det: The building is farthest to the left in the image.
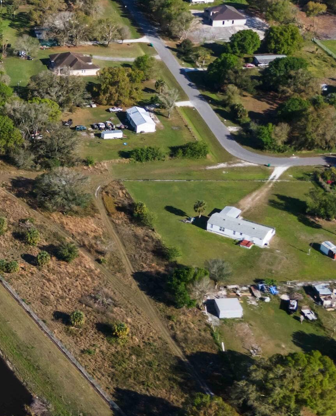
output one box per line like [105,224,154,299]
[51,52,100,75]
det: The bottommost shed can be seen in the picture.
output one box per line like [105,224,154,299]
[212,292,244,318]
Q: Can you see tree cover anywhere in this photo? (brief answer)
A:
Yes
